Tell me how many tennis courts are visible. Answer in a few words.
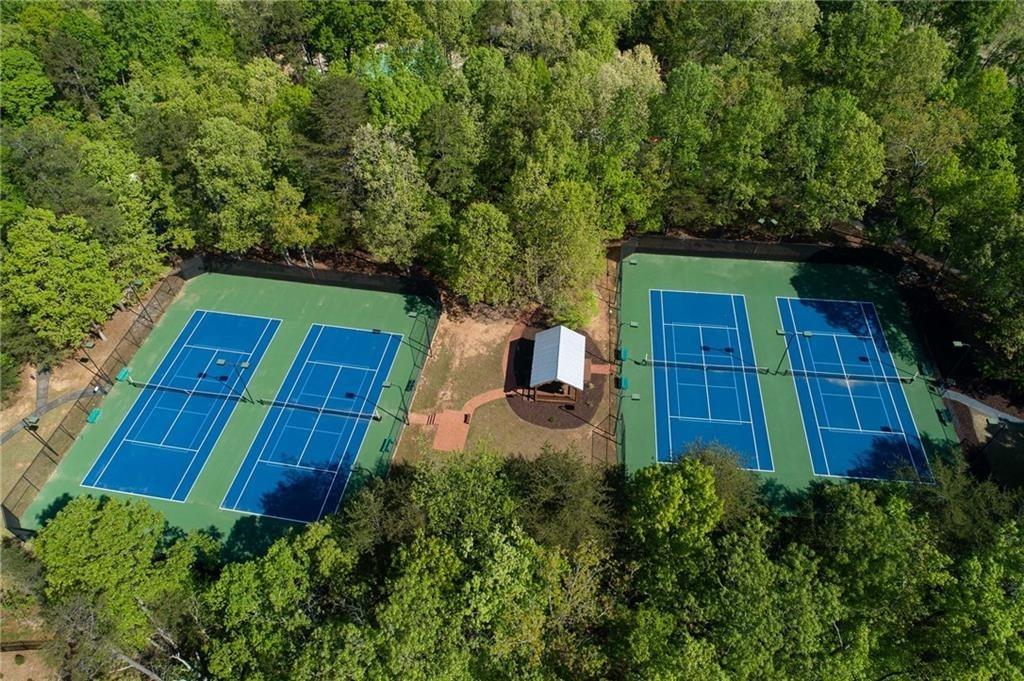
four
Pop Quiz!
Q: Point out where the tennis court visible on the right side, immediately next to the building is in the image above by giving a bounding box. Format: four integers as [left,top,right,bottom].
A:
[620,255,798,530]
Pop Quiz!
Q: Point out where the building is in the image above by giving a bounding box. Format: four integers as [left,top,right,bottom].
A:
[530,325,585,405]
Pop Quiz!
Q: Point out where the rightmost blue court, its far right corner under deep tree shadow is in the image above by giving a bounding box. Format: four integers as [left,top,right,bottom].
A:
[753,260,984,533]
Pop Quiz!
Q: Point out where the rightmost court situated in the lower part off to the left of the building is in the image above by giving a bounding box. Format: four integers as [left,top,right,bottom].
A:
[188,285,443,594]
